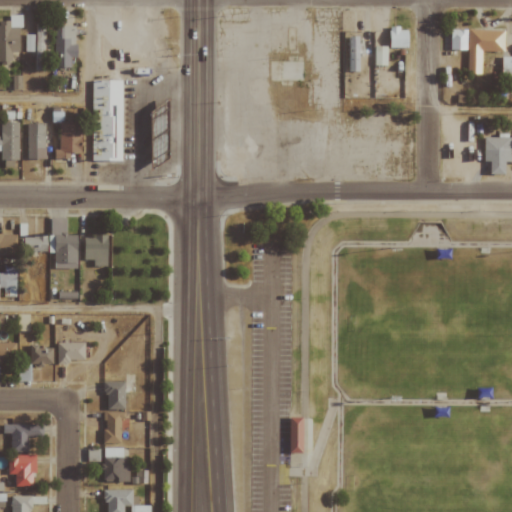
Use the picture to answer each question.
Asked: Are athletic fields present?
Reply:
Yes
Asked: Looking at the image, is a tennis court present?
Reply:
No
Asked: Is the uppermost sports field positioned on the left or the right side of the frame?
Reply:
right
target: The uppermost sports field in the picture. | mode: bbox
[334,244,512,402]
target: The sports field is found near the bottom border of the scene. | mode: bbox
[338,403,512,512]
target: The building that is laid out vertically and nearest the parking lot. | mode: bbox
[290,418,304,454]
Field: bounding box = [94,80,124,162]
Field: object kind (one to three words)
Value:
building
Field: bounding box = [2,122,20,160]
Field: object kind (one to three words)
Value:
house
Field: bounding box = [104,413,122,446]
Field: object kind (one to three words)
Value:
house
